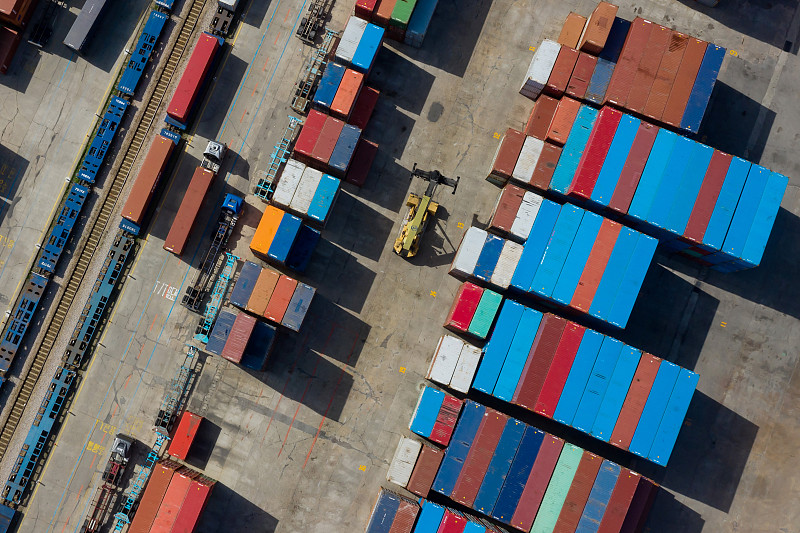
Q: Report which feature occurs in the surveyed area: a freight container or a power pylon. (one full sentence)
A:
I can see a freight container in this picture.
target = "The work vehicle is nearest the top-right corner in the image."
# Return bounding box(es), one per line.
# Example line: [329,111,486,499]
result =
[391,158,462,263]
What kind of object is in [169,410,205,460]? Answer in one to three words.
shipping container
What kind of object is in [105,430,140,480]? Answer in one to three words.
truck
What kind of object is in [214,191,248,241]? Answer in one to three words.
truck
